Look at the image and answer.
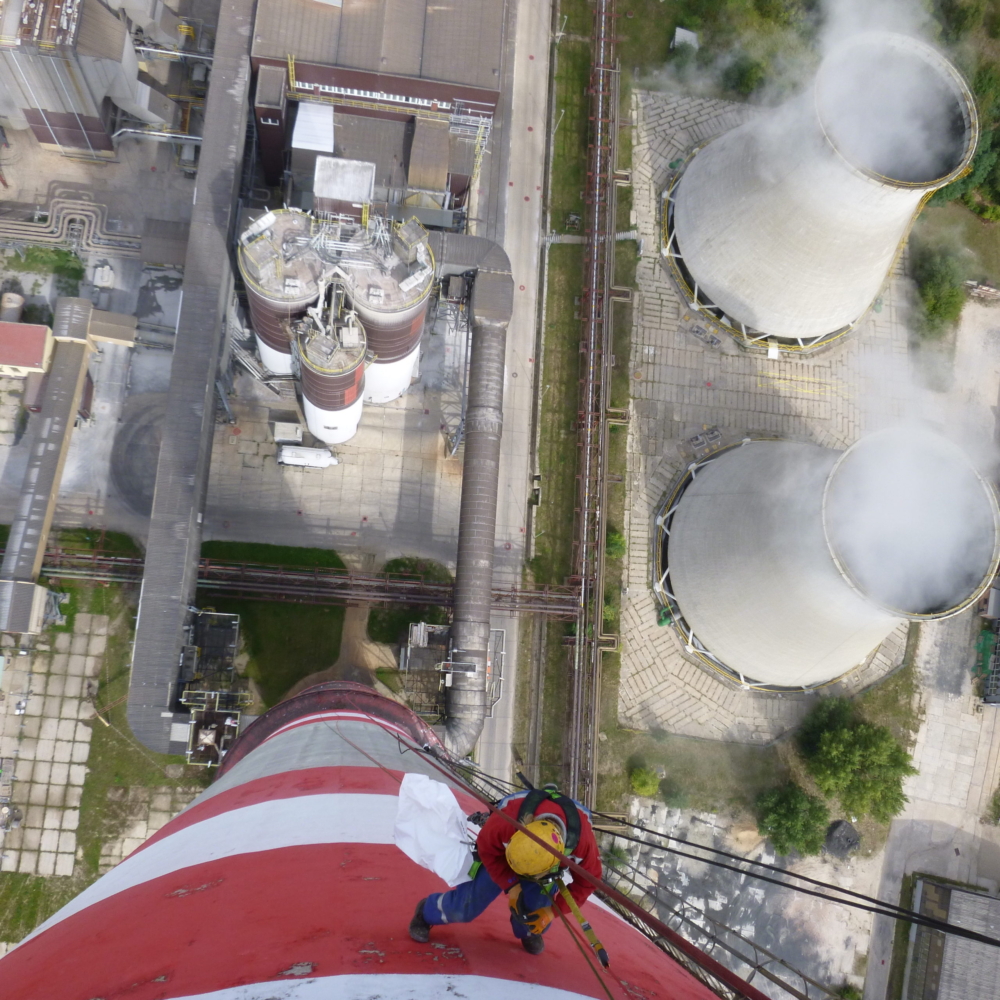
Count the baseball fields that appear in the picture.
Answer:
none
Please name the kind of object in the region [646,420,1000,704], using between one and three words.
cooling tower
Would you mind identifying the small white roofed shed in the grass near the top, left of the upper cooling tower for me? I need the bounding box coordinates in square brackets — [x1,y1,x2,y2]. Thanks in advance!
[670,28,698,61]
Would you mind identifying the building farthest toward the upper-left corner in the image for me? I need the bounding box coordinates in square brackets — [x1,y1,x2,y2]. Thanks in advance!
[0,0,205,161]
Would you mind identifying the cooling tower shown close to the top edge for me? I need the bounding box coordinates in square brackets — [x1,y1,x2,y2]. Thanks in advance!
[654,21,994,358]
